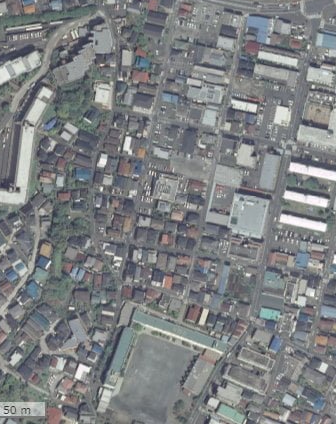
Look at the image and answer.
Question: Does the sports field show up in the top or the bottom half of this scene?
bottom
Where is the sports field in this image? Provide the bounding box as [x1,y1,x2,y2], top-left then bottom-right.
[115,332,199,424]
